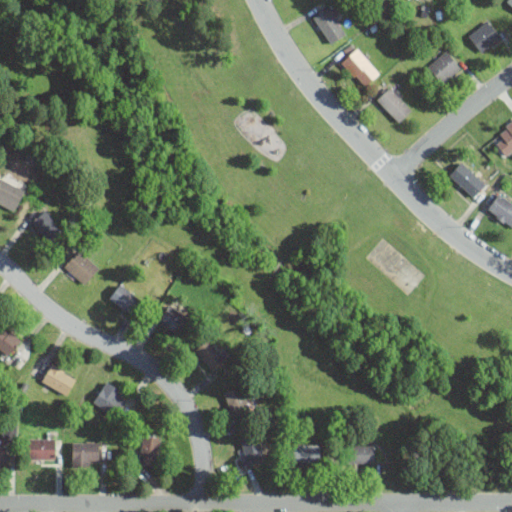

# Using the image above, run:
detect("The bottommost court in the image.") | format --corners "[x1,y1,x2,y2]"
[366,238,425,296]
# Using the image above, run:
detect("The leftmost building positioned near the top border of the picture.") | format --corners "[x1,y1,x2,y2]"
[314,9,346,44]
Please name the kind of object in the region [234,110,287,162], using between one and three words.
playground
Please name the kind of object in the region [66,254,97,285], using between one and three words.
house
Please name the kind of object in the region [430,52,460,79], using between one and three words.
house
